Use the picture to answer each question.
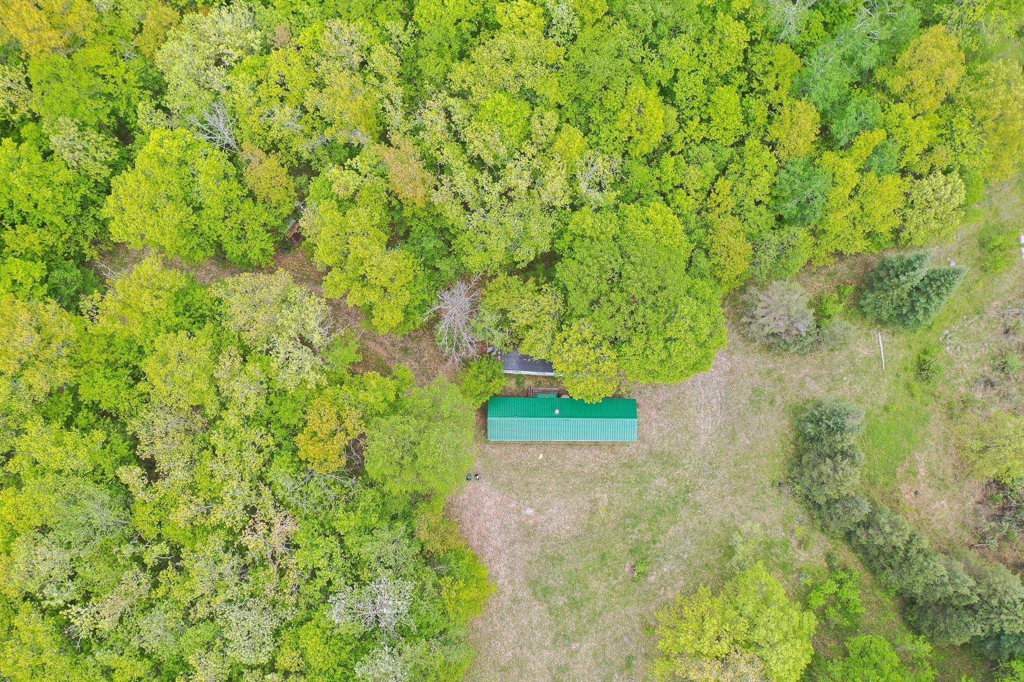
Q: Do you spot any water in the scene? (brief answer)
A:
No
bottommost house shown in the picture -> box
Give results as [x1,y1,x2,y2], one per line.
[487,394,638,442]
